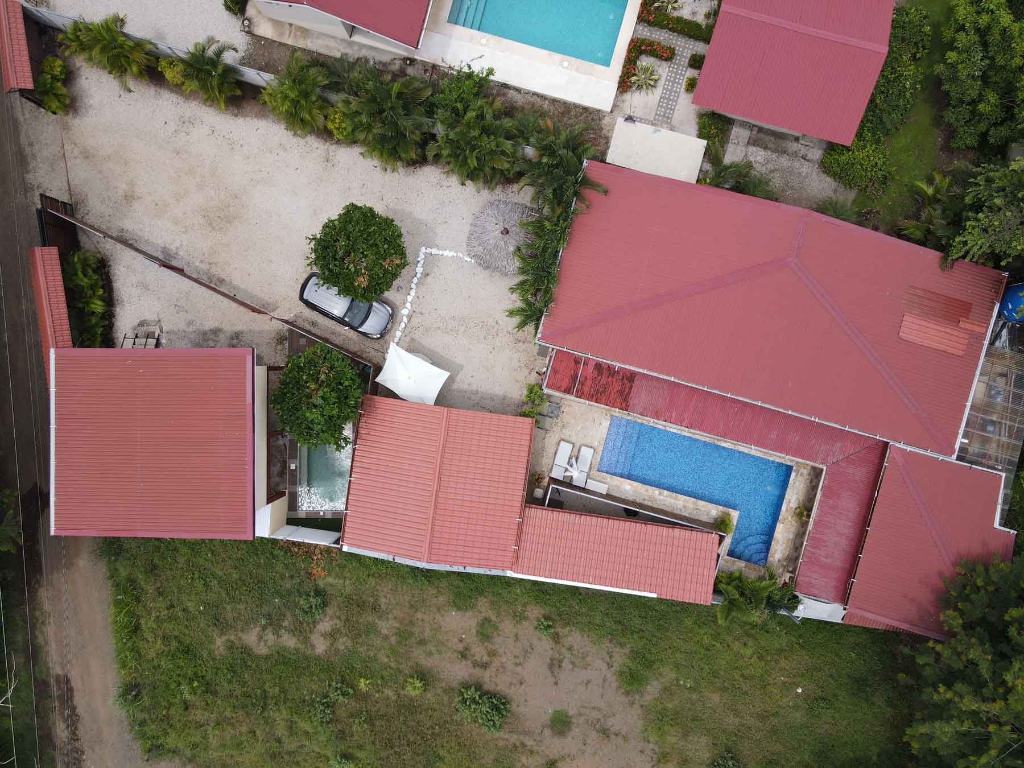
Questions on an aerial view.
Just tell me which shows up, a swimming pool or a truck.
swimming pool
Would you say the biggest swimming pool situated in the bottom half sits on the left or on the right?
right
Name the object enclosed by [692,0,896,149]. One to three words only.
house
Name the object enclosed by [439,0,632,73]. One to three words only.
swimming pool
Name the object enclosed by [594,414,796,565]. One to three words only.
swimming pool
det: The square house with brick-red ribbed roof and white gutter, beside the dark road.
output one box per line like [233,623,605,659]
[45,347,271,540]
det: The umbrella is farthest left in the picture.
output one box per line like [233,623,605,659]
[376,342,449,405]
